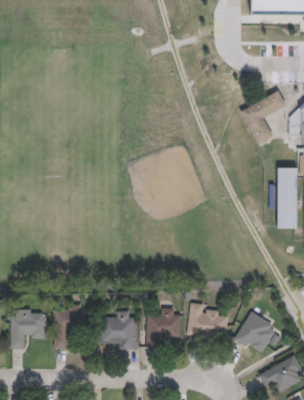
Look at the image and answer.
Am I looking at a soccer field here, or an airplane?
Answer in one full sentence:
Visible in the photo is a soccer field.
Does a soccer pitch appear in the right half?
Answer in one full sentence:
No, I see no soccer pitch in the right half.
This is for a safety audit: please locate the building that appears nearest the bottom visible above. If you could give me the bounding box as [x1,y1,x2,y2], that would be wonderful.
[260,354,304,393]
